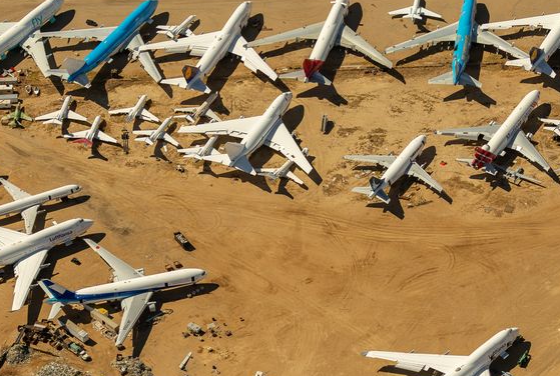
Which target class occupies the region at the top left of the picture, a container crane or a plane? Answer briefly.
plane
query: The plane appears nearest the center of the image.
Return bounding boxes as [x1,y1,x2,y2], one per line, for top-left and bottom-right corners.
[257,160,307,188]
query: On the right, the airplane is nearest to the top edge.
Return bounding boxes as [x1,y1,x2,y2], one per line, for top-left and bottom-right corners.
[388,0,440,20]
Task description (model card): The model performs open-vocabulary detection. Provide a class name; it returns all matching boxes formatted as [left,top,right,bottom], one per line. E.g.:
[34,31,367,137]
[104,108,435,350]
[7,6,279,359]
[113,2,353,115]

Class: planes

[388,0,440,20]
[36,238,206,345]
[34,98,89,125]
[0,219,94,312]
[0,178,79,235]
[152,16,195,37]
[108,96,160,122]
[257,160,307,188]
[177,95,314,178]
[357,329,520,376]
[0,0,64,77]
[174,95,224,123]
[432,92,552,177]
[64,118,118,145]
[1,101,32,129]
[495,165,547,189]
[381,0,532,87]
[136,3,279,96]
[26,1,162,91]
[478,13,560,78]
[176,136,218,163]
[132,118,183,146]
[342,136,441,203]
[244,0,393,87]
